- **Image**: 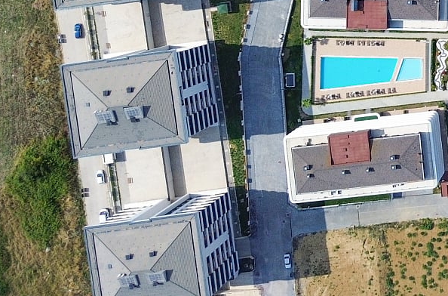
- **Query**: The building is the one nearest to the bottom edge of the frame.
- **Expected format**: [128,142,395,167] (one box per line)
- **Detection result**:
[85,192,239,296]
